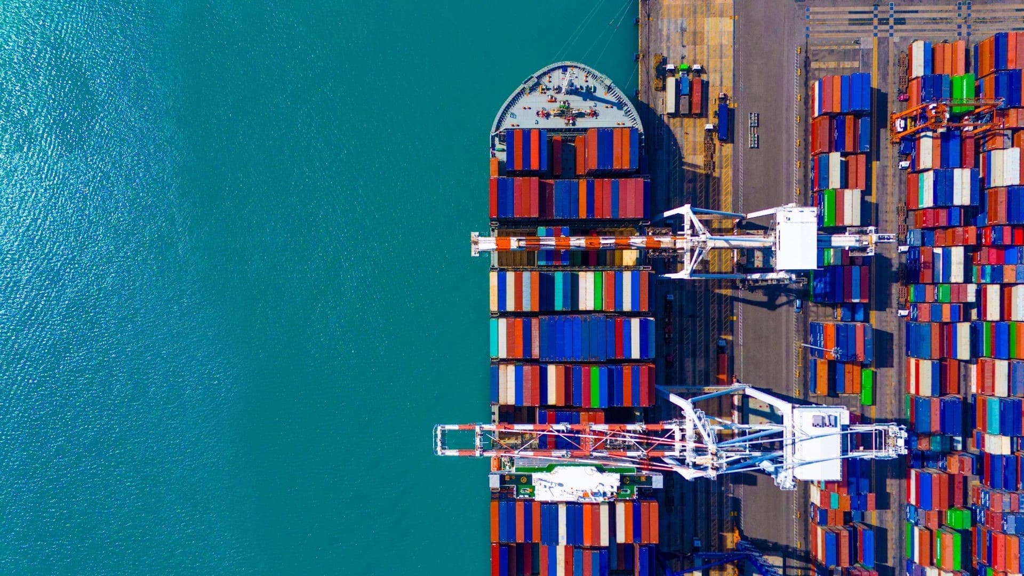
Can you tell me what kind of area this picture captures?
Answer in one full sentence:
What you see here is a port.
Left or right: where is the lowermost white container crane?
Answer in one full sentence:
The lowermost white container crane sits on the right side.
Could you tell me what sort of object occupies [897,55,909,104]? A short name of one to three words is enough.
vehicle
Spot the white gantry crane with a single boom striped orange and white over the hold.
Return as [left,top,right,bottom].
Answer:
[471,204,895,291]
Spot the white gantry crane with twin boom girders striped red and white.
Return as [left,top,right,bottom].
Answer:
[430,368,910,491]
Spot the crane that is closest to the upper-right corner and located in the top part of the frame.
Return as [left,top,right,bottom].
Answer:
[892,96,1005,141]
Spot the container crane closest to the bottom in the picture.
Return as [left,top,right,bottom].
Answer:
[650,530,767,576]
